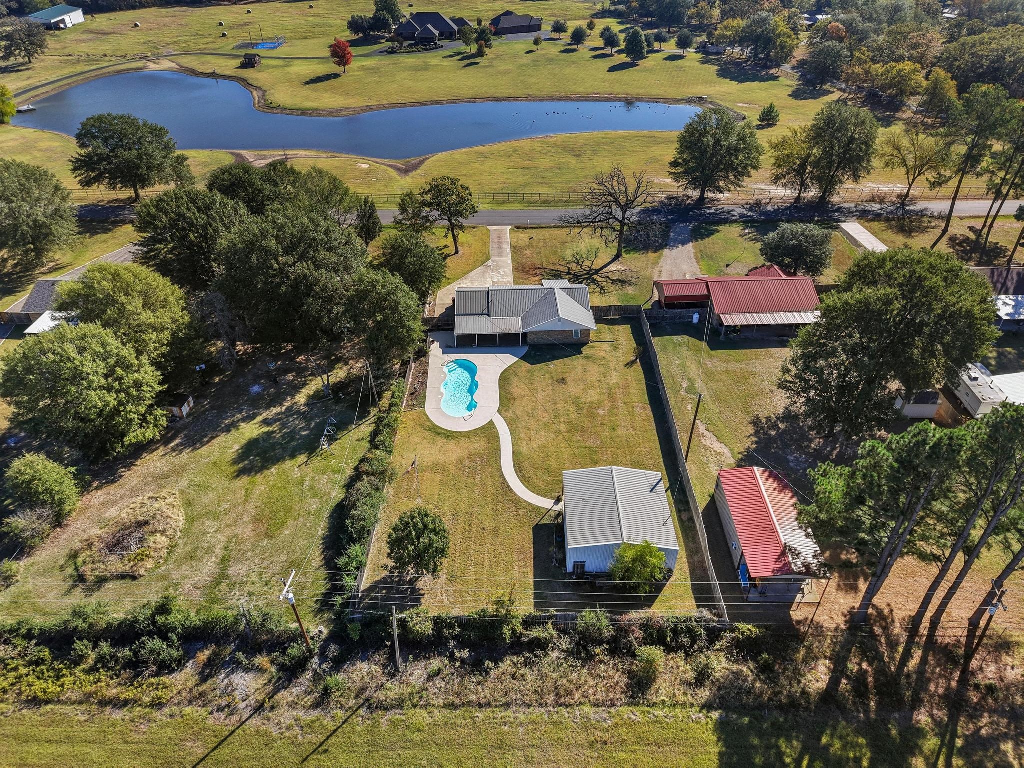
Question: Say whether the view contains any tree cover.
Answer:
Yes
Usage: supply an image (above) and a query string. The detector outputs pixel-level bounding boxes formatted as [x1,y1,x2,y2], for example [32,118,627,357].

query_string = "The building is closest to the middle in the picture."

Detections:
[451,279,598,347]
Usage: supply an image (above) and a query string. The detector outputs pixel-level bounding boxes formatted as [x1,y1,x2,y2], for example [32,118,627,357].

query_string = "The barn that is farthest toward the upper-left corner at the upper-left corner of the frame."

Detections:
[14,3,85,33]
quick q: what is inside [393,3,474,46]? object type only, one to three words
house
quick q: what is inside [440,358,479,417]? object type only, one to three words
swimming pool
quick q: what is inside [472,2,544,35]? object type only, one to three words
building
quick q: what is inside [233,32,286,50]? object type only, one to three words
sports court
